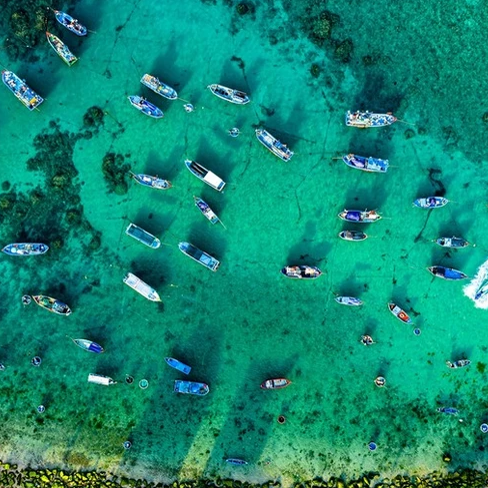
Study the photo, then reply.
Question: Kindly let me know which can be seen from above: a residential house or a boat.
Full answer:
Visible in the photo is a boat.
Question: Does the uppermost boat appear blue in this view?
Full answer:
Yes, the uppermost boat is indeed blue.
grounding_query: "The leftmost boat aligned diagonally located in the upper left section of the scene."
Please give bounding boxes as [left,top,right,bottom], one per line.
[0,68,42,110]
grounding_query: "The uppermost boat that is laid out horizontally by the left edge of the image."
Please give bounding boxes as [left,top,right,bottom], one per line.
[0,243,51,256]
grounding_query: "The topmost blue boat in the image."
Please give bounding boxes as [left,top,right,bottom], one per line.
[49,6,96,40]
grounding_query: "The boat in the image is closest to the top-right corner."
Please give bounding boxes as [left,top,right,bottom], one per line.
[344,108,415,126]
